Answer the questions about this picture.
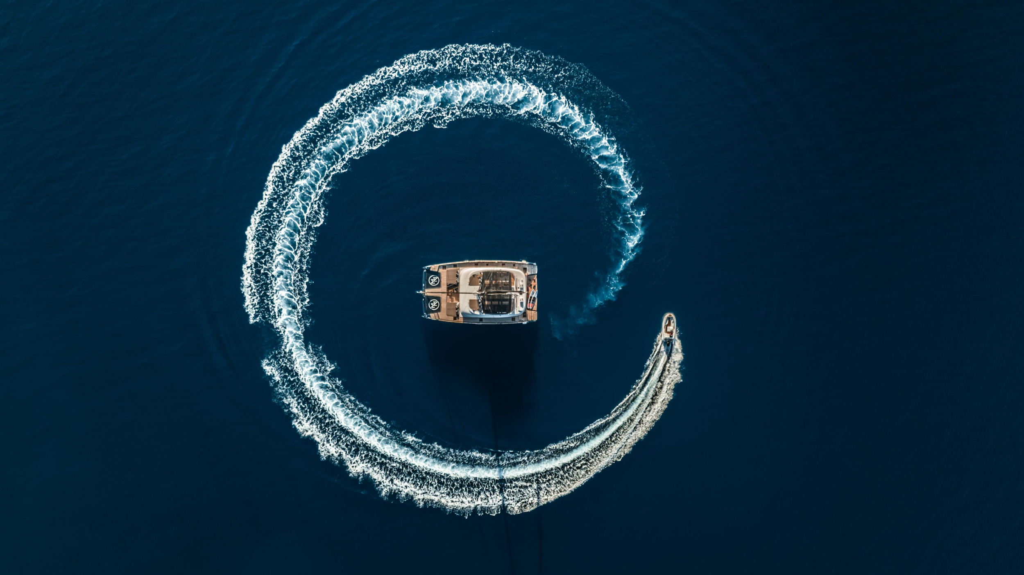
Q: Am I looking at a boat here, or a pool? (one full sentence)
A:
Looking from above, you can make out a boat.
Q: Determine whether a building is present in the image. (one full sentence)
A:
No, no building can be seen from above.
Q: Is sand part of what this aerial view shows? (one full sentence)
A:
No, sand can't be seen anywhere here.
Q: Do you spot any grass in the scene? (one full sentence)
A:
No, no grass is visible.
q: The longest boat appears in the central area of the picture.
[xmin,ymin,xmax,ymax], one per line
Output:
[416,260,537,324]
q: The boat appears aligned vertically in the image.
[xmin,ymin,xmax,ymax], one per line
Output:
[662,313,676,346]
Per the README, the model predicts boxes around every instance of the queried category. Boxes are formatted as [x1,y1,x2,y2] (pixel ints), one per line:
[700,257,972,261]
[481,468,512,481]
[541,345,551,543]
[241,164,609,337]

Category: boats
[662,313,676,346]
[416,260,537,324]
